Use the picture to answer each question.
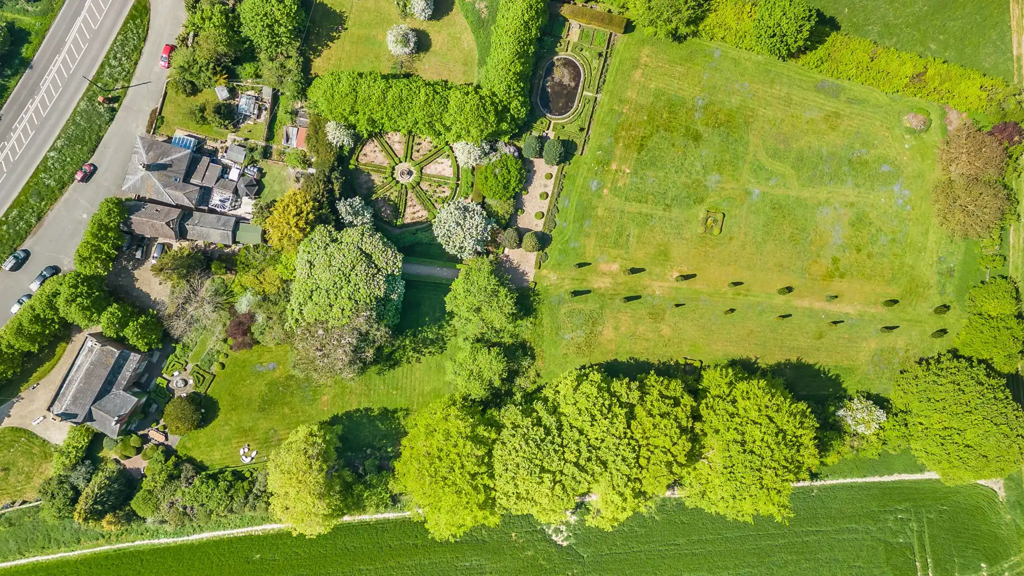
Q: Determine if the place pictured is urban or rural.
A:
rural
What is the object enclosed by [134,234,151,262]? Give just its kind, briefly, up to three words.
vehicle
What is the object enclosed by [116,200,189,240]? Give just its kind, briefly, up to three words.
house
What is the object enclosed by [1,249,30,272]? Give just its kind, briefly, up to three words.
car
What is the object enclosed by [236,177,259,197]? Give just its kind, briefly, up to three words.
gazebo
